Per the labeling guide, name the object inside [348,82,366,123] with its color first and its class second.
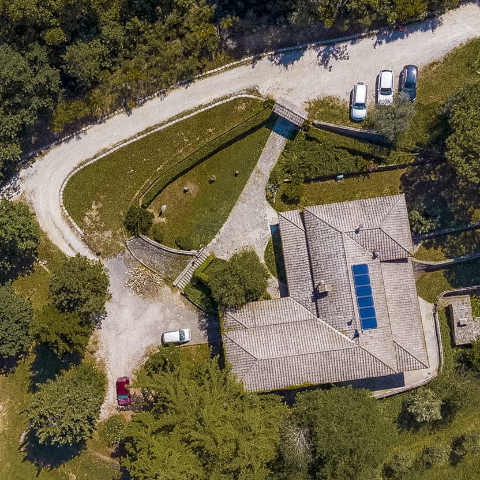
white car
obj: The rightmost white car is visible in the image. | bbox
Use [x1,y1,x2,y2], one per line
[375,69,394,107]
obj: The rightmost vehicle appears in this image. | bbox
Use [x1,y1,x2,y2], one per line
[398,64,417,104]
